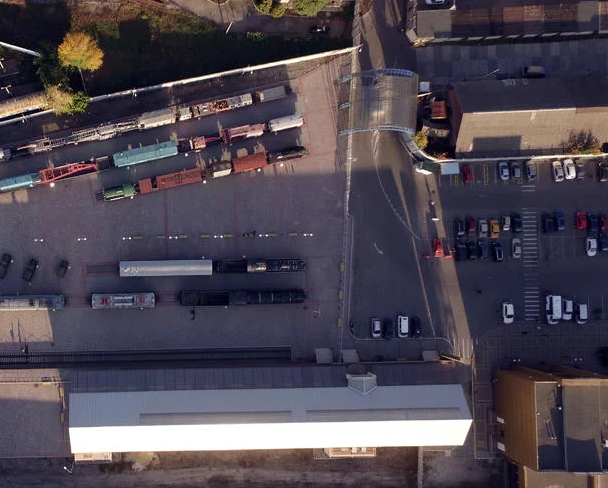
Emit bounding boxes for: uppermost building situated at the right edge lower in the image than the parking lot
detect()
[494,366,608,473]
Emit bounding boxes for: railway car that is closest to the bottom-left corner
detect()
[0,294,67,310]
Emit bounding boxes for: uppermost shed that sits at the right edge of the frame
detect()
[409,2,608,43]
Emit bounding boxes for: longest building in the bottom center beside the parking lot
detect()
[66,359,469,463]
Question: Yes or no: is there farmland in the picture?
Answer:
No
